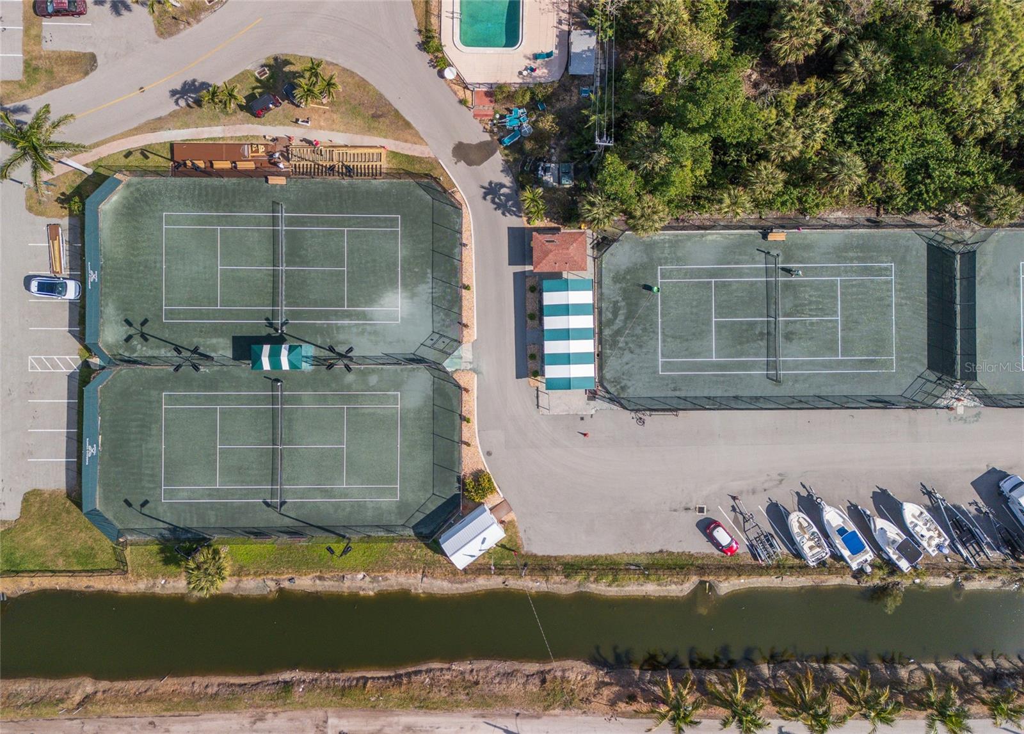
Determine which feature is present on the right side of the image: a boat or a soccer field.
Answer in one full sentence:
Visible on the right side of the image is a boat.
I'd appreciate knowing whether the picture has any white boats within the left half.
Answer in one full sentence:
No, I can find no white boat within the left half.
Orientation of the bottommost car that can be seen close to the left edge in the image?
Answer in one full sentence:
I'd say the bottommost car that can be seen close to the left edge is aligned from left to right in the picture.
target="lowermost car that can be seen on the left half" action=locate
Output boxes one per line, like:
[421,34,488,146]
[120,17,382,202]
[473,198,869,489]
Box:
[30,277,83,299]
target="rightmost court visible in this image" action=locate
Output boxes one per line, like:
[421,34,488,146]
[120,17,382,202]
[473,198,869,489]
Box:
[960,232,1024,407]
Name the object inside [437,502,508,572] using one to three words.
shed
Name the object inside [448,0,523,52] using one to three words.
swimming pool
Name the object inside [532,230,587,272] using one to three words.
building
